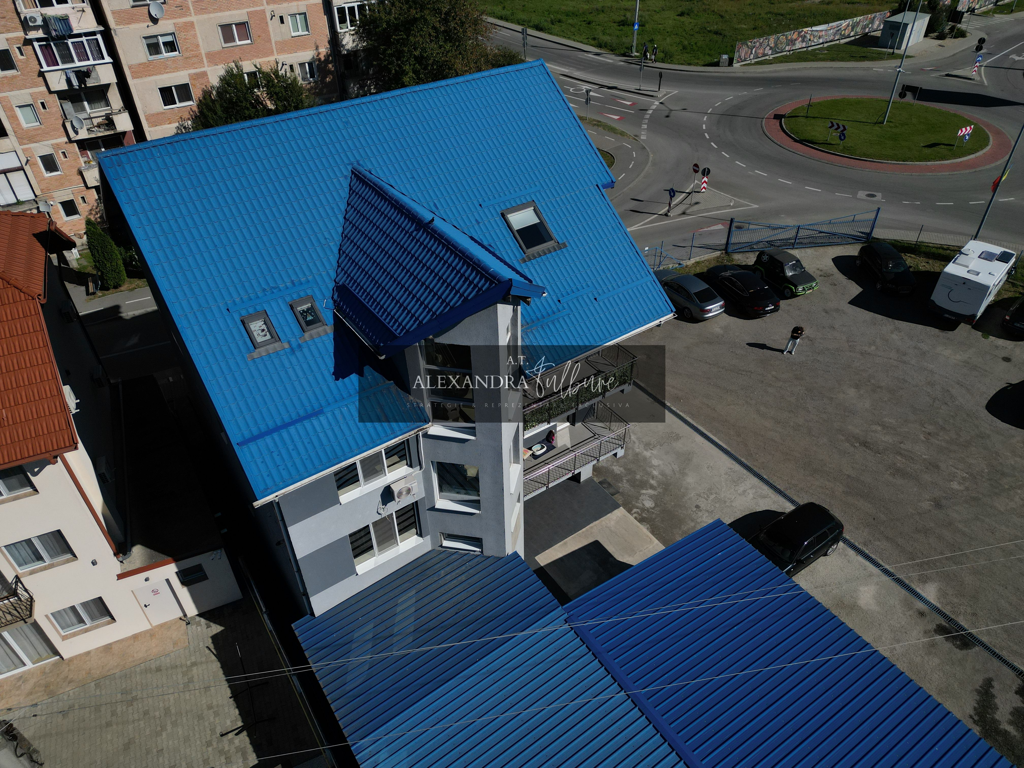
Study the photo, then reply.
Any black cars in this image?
Yes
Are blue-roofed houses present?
Yes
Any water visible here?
No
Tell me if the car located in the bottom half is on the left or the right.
right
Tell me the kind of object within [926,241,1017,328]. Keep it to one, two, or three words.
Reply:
camper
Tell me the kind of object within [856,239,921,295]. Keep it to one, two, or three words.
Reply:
car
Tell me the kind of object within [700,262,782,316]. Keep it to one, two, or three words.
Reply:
car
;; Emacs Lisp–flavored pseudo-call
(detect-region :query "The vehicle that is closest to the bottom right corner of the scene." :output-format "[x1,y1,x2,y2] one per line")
[750,498,854,580]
